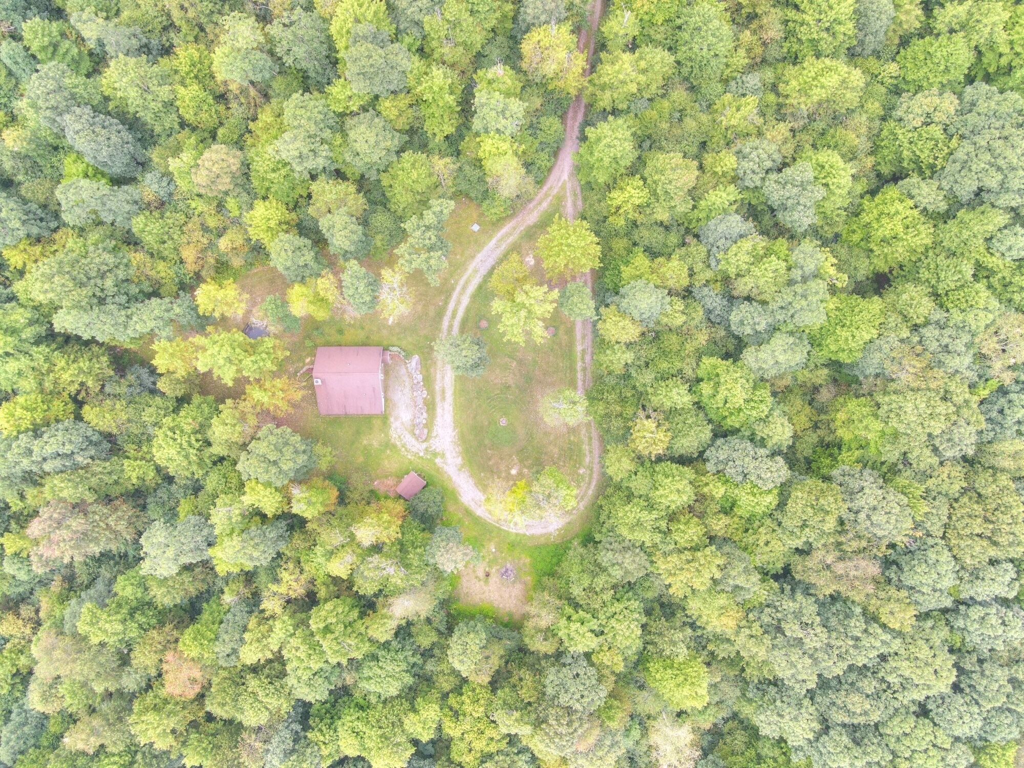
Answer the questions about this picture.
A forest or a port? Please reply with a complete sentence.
It's a forest.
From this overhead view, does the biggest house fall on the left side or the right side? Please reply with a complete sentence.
The biggest house sits on the left side.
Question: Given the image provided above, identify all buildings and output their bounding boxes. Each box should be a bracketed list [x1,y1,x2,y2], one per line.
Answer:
[312,345,393,415]
[396,469,427,498]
